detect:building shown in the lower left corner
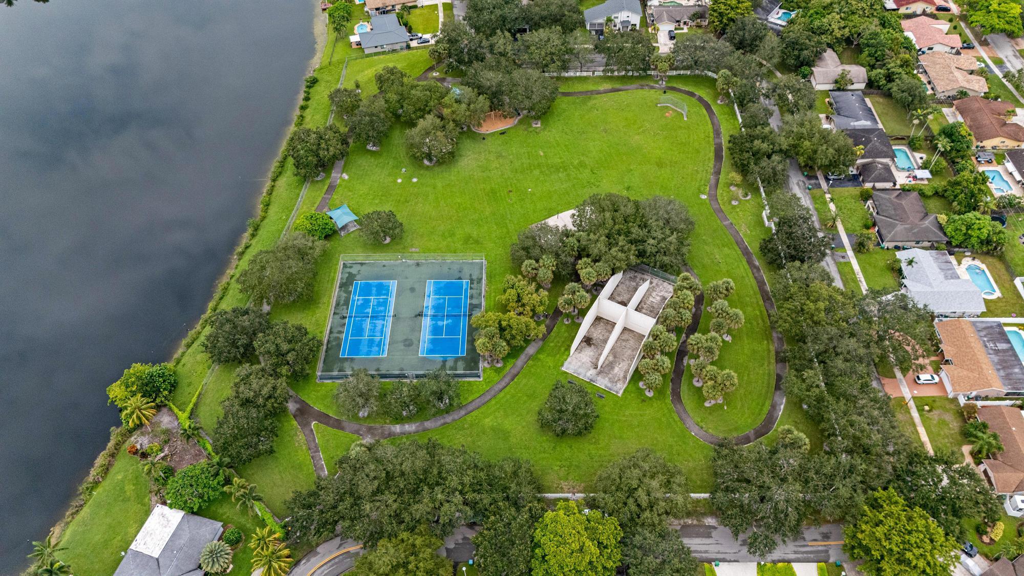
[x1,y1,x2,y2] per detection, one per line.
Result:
[114,504,224,576]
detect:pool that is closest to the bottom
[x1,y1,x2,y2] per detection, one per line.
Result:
[1004,326,1024,370]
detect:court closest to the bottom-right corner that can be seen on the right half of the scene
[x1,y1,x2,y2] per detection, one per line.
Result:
[563,269,674,394]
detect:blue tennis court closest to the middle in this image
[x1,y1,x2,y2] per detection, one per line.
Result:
[419,280,470,356]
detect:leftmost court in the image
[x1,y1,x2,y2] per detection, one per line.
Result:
[339,281,397,357]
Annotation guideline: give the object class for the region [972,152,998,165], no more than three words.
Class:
gazebo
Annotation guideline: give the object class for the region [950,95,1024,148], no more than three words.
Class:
house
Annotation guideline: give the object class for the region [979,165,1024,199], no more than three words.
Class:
swimming pool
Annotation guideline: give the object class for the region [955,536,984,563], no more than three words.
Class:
car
